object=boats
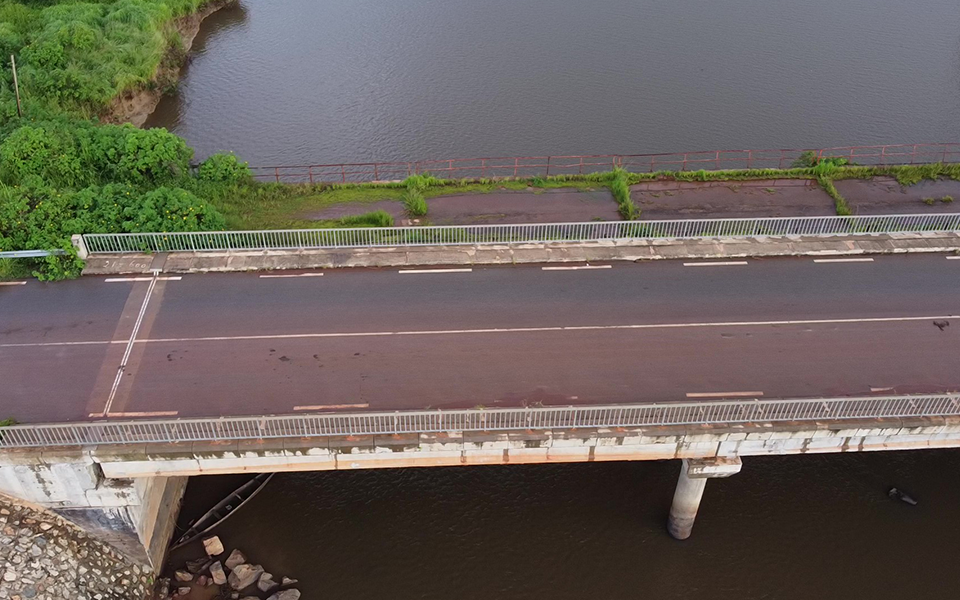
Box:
[169,471,278,550]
